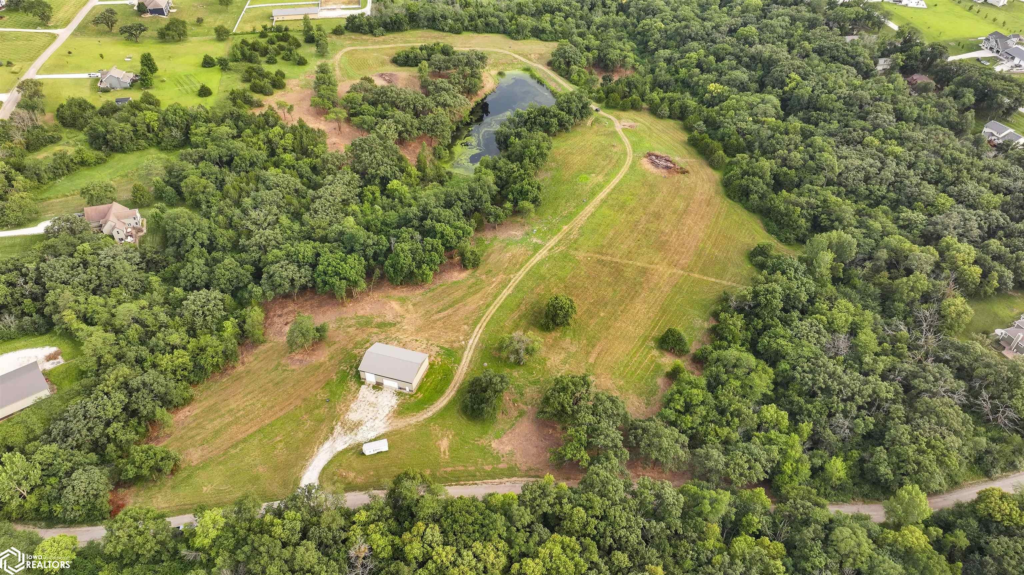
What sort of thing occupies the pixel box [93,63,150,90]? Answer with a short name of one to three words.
house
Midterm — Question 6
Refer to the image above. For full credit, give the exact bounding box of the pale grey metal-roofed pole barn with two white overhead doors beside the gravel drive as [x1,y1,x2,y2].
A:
[357,341,431,394]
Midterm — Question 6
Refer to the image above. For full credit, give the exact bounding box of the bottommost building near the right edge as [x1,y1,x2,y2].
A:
[972,304,1024,367]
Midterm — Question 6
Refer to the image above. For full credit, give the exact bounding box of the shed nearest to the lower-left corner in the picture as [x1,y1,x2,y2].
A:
[0,359,53,420]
